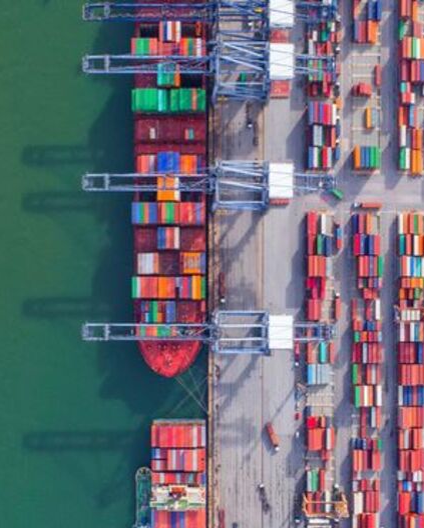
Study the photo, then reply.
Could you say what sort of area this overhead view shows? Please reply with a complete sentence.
This looks like a port.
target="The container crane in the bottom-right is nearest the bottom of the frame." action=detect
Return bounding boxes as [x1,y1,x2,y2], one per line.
[301,489,348,516]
